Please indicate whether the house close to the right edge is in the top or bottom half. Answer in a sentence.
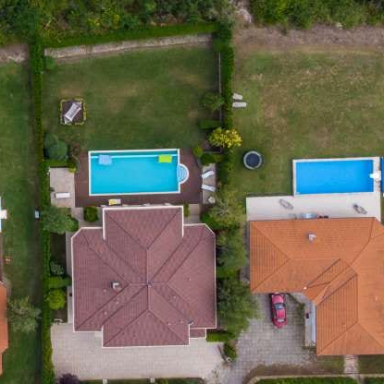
It is in the bottom half that the house close to the right edge appears.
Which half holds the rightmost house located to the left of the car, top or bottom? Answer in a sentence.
You can find the rightmost house located to the left of the car in the bottom half.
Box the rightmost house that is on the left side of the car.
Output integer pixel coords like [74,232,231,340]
[71,205,217,348]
